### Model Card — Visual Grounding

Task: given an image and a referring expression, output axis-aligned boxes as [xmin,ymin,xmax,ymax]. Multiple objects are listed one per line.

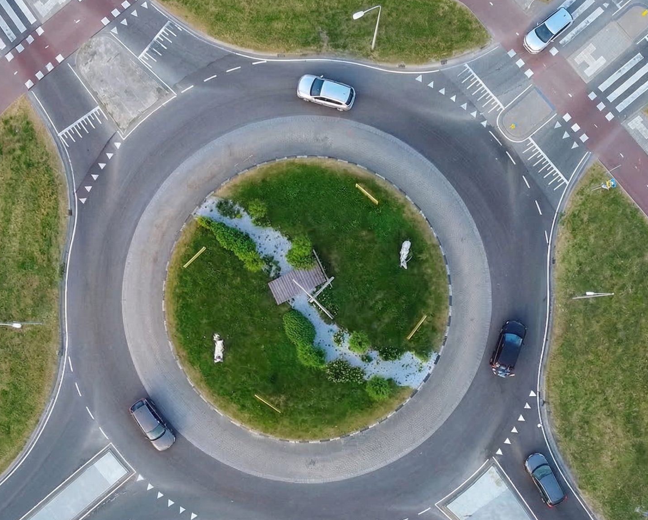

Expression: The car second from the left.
[298,74,356,113]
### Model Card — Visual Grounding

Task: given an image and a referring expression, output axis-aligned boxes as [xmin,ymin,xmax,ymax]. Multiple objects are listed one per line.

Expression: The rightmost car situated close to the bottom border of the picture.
[523,451,569,509]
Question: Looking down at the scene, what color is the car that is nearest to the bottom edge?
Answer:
blue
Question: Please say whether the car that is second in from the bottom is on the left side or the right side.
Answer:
left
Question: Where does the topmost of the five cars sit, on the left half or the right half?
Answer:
right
